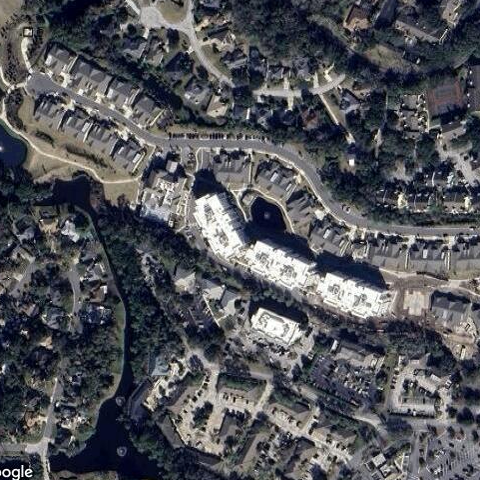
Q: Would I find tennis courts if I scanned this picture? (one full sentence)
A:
Yes, a tennis court is visible in the scene.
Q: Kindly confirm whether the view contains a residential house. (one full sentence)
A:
Yes, the image includes a residential house.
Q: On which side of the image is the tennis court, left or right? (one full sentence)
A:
The tennis court sits on the right side.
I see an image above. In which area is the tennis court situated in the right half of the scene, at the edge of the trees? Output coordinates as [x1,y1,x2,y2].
[426,80,465,114]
